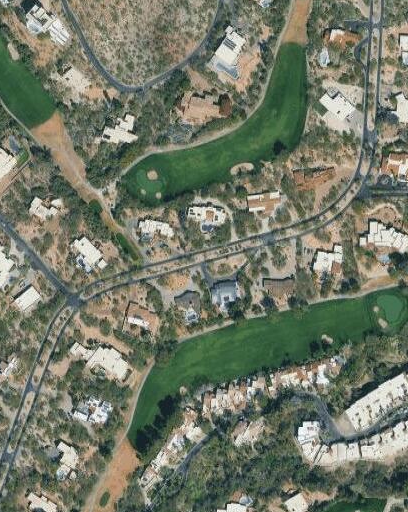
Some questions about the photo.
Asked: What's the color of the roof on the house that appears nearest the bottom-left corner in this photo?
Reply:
white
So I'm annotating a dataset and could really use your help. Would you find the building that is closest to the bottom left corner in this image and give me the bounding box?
[26,492,61,512]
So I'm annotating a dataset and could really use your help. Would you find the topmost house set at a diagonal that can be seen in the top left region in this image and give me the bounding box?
[26,5,70,43]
